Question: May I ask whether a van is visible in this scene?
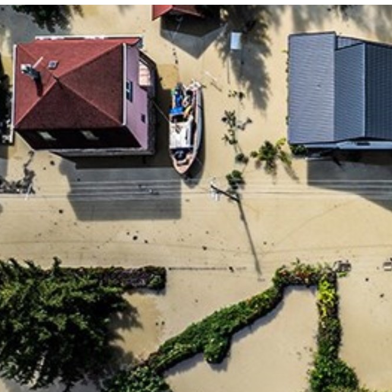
No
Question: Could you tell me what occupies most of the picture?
water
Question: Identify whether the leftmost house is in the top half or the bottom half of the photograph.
top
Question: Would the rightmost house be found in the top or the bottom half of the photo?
top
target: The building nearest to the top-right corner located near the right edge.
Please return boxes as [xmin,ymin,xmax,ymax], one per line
[288,32,392,161]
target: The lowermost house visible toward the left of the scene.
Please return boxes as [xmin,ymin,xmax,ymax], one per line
[13,37,157,157]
